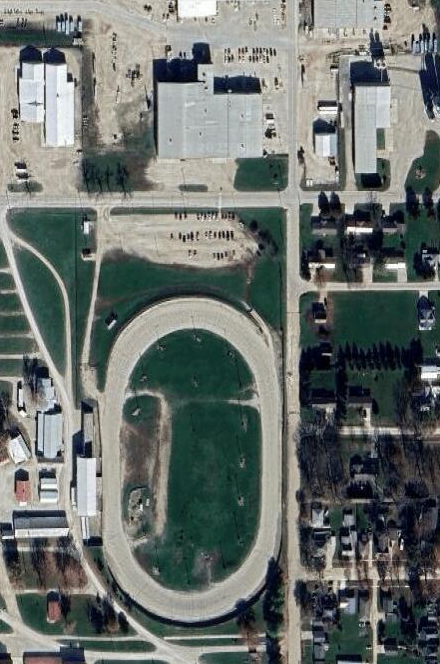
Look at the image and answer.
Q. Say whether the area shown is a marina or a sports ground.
sports ground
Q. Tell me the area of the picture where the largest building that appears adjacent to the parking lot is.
top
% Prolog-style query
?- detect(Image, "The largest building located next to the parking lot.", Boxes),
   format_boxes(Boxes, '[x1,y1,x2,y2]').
[157,64,262,158]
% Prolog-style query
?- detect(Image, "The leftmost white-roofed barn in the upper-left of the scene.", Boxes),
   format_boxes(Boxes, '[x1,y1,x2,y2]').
[19,62,43,122]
